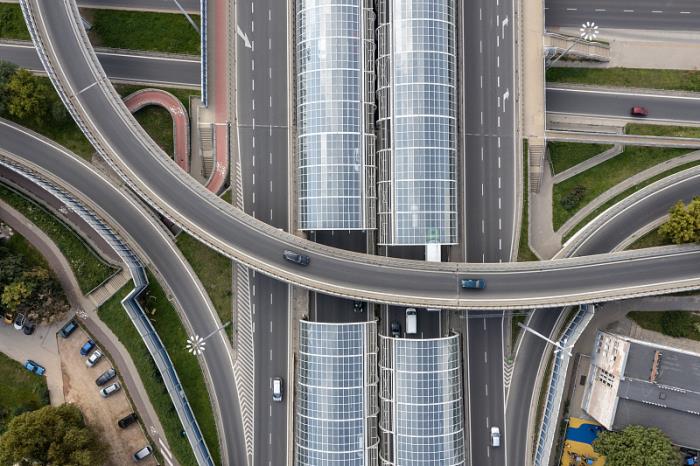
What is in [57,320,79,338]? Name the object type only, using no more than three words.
car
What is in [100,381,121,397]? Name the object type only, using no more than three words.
car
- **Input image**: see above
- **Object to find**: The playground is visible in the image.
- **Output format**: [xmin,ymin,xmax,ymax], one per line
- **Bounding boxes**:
[564,418,612,466]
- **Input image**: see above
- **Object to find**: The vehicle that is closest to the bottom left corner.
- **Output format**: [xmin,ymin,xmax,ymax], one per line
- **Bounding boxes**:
[25,360,46,374]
